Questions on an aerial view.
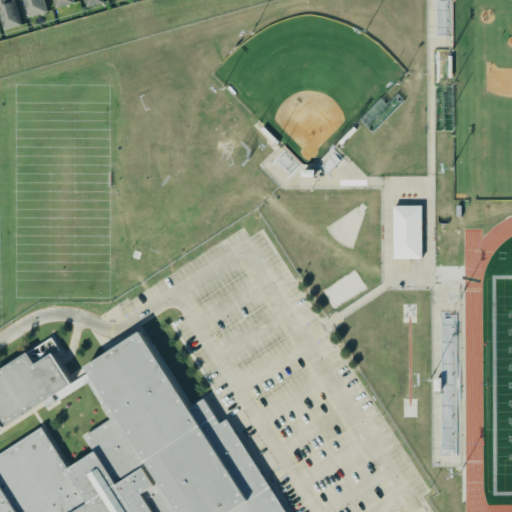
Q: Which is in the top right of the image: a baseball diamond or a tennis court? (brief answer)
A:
baseball diamond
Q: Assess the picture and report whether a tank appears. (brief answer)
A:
No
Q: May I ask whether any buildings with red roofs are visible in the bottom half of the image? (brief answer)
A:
No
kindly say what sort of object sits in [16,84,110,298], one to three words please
sports field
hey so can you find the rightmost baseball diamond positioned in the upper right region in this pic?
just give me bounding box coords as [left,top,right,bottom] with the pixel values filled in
[456,0,512,198]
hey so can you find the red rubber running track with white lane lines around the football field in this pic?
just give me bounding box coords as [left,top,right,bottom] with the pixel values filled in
[466,216,512,512]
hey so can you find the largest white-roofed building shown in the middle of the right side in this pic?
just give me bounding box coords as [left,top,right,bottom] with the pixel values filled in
[394,206,423,260]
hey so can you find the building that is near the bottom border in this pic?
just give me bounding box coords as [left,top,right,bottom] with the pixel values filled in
[0,331,289,512]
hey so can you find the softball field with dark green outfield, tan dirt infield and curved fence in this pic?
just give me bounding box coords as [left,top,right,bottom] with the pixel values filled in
[214,15,406,164]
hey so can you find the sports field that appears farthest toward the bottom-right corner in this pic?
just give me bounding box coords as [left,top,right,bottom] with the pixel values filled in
[484,236,512,504]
